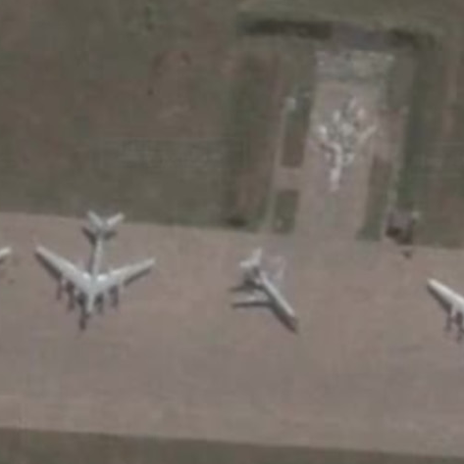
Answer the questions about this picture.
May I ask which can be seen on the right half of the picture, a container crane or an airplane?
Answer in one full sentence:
The feature located on the right half of the picture is an airplane.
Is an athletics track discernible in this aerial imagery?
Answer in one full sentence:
No, there appears to be no athletics track in this shot.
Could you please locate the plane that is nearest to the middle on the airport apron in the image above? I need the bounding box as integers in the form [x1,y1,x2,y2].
[235,249,300,324]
